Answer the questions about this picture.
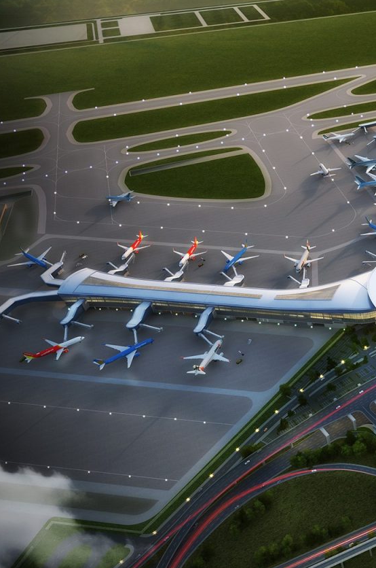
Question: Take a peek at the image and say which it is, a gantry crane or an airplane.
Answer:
airplane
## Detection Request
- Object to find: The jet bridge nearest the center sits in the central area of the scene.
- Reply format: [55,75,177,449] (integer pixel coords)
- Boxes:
[161,259,190,283]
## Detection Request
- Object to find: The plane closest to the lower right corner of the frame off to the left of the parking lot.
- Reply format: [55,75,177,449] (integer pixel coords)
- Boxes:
[185,343,222,372]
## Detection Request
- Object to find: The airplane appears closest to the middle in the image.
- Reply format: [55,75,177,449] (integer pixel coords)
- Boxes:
[173,237,209,266]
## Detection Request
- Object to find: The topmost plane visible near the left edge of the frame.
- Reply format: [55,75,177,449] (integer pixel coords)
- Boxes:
[7,242,52,266]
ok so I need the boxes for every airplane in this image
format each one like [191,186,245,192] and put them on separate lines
[323,132,355,143]
[7,242,52,266]
[95,340,154,366]
[185,343,222,372]
[173,237,209,266]
[315,165,339,176]
[357,172,376,189]
[20,335,85,363]
[348,154,376,171]
[221,243,255,272]
[118,230,155,260]
[287,243,323,273]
